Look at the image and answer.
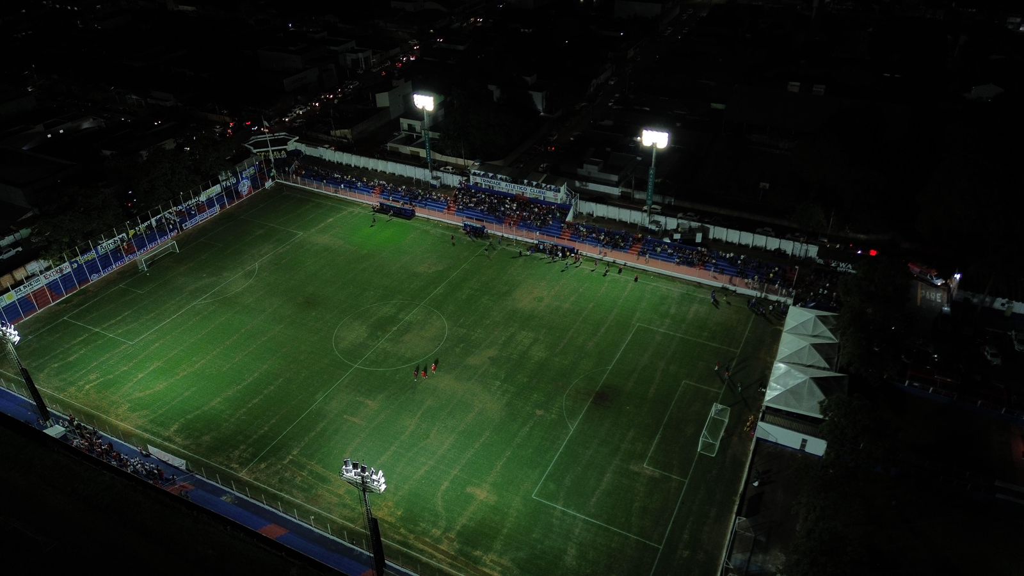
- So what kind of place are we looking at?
sports ground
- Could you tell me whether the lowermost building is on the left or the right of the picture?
right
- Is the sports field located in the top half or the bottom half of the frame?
bottom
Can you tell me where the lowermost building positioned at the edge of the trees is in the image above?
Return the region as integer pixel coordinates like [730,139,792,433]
[757,405,832,459]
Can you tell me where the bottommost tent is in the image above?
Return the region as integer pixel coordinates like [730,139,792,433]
[766,361,845,439]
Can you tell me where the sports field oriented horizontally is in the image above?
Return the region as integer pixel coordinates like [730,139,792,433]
[0,180,797,576]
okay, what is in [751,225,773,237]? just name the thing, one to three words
vehicle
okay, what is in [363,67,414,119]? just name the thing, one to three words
house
